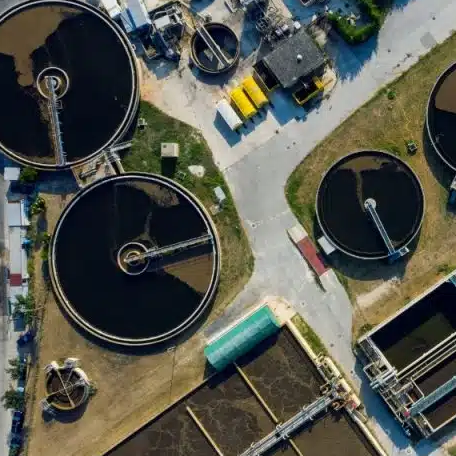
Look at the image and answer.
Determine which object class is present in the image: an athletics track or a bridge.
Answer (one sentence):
The one in the frame is a bridge.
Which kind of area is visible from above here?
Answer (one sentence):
This looks like an industrial area.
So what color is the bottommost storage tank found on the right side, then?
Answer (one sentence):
The color of the bottommost storage tank found on the right side is black.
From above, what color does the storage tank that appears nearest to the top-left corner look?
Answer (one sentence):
The color of the storage tank that appears nearest to the top-left corner is black.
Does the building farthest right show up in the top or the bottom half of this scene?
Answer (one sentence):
The building farthest right sits in the top half of the picture.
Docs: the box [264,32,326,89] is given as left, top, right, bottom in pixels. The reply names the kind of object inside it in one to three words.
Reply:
building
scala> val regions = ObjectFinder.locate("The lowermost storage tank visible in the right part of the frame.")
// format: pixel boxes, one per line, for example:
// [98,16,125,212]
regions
[316,150,424,259]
